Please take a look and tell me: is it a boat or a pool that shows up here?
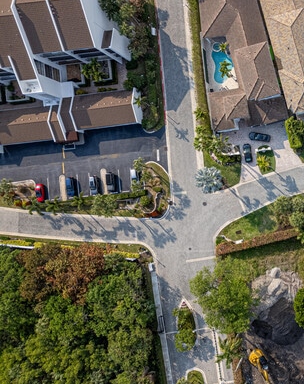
pool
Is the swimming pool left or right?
right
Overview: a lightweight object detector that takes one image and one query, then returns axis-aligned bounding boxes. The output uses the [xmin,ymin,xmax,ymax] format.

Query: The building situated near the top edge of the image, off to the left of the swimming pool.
[0,0,131,110]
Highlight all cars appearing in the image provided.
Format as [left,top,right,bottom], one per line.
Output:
[65,177,76,197]
[242,143,252,163]
[129,168,139,186]
[88,176,98,195]
[35,183,46,202]
[105,172,116,194]
[249,133,270,142]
